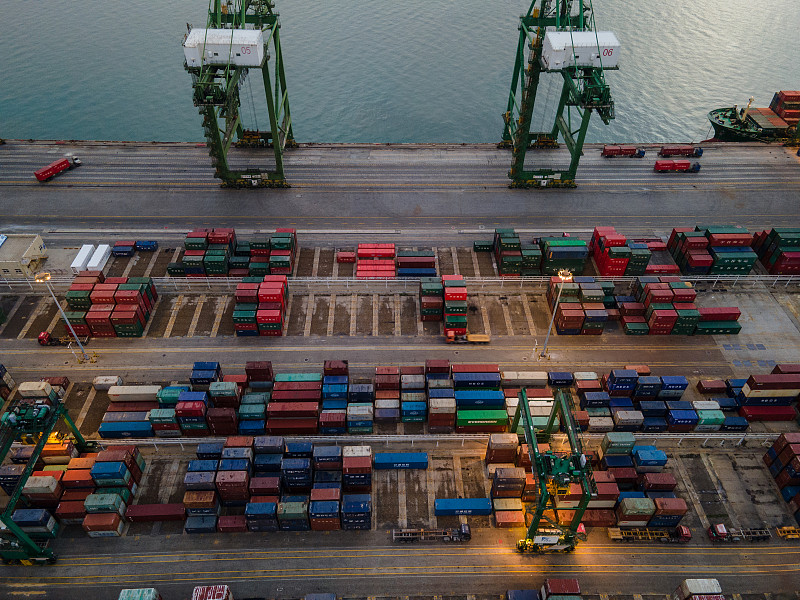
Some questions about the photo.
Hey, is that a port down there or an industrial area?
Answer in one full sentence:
The area seen from above is a port.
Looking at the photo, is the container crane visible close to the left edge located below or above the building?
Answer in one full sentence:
Looking at the photo, you'll find the container crane visible close to the left edge below the building.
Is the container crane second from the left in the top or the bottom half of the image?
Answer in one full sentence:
The top half of the photo is where the container crane second from the left is.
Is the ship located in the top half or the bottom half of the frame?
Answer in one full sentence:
You can find the ship in the top half.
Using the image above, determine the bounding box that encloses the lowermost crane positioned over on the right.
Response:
[495,388,597,550]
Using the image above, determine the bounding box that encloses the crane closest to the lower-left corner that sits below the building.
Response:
[0,391,109,559]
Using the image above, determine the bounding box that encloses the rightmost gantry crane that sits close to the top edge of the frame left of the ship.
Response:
[495,0,623,187]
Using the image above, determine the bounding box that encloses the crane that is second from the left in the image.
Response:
[181,0,299,186]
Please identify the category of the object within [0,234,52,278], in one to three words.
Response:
building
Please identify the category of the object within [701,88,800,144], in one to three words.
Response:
ship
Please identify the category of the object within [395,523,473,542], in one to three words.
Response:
vehicle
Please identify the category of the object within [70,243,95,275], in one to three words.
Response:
shipping container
